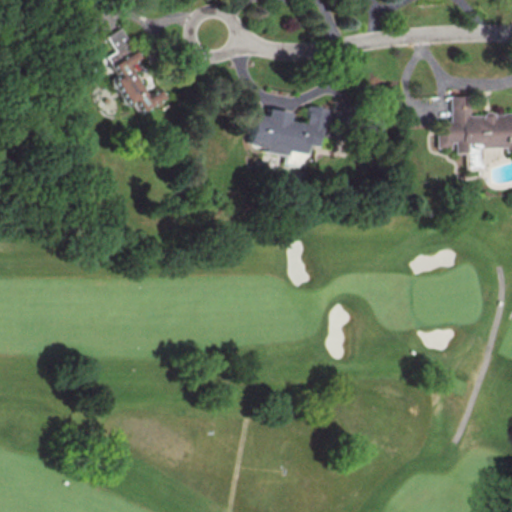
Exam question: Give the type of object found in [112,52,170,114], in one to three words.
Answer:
house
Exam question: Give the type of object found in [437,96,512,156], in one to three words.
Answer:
house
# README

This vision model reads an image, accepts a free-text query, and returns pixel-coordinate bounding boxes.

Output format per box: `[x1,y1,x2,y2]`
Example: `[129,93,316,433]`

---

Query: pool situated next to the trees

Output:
[490,162,512,186]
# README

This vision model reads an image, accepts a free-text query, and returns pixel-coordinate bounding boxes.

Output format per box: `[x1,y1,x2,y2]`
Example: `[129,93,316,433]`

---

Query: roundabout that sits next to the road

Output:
[182,6,275,64]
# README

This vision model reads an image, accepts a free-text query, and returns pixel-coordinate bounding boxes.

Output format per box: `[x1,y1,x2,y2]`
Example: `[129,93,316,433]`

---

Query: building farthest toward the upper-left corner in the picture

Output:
[106,30,132,69]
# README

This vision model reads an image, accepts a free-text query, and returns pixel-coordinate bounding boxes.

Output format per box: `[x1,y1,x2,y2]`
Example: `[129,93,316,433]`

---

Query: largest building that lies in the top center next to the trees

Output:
[252,106,330,166]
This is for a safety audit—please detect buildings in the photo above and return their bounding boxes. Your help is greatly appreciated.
[437,96,512,156]
[106,30,132,69]
[252,106,330,166]
[112,52,170,114]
